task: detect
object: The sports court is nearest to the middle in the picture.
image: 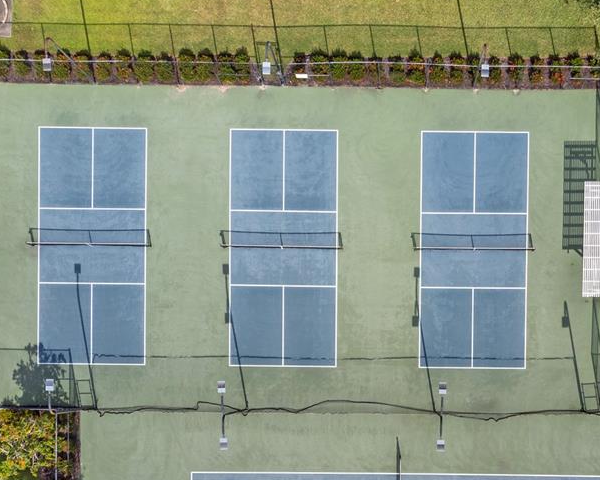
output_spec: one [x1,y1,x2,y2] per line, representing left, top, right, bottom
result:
[229,129,339,368]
